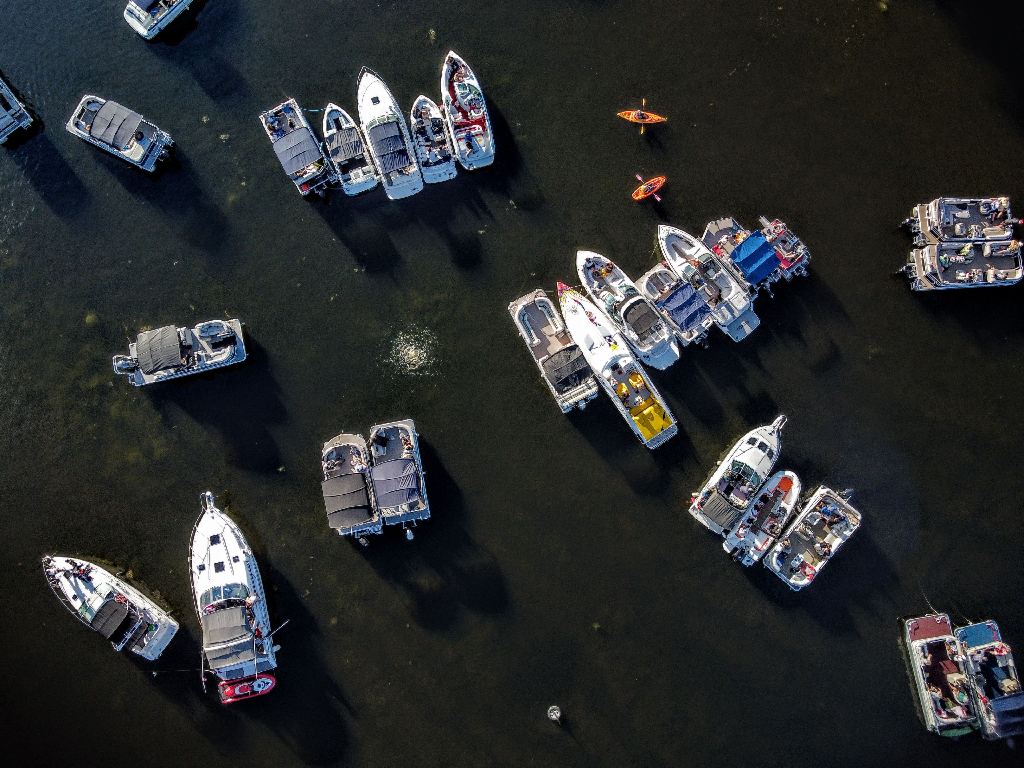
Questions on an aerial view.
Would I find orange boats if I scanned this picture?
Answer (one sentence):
Yes, I can see an orange boat in this picture.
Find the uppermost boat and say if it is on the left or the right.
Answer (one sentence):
You can find the uppermost boat on the left side of the picture.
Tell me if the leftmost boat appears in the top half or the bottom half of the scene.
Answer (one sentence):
It is in the top half that the leftmost boat appears.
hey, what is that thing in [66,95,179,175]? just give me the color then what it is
gray boat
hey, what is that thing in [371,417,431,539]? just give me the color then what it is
gray boat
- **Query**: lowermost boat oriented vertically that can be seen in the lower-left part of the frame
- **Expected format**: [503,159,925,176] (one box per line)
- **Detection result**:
[188,491,290,693]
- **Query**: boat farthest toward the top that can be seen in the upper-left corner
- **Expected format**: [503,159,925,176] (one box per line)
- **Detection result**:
[123,0,200,41]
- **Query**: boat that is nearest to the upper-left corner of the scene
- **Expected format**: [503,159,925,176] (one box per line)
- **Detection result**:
[0,70,38,157]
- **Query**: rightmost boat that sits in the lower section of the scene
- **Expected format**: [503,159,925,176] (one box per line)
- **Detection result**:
[952,613,1024,751]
